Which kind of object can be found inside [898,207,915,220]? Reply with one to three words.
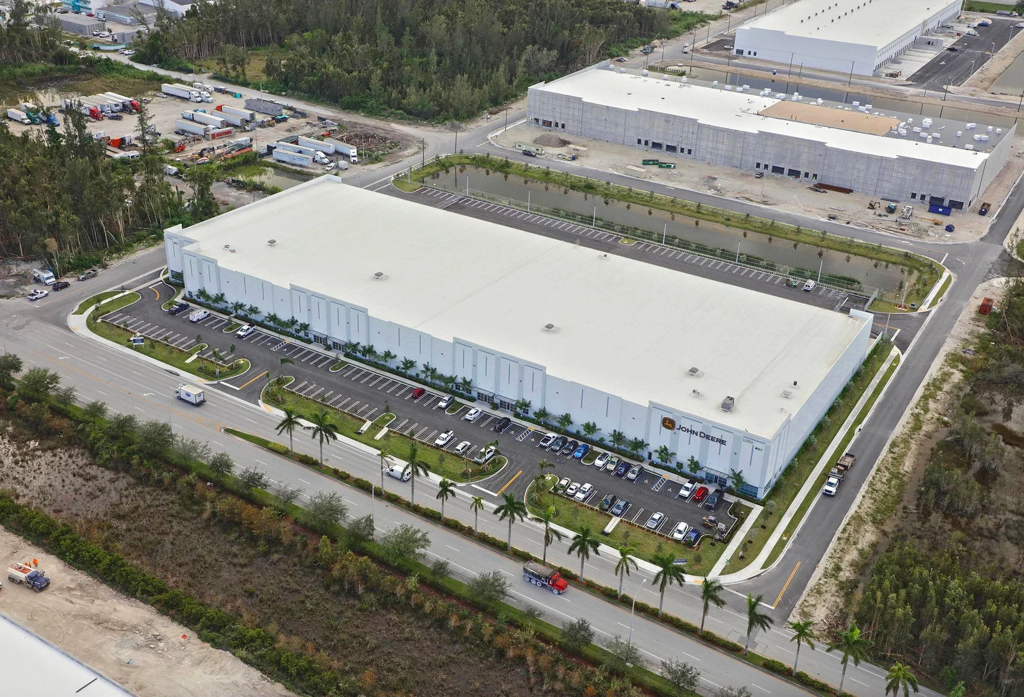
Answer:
vehicle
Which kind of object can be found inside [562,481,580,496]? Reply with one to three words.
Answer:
car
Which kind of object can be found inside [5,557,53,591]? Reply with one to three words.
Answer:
truck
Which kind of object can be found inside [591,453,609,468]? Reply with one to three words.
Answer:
car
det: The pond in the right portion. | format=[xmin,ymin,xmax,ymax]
[431,167,900,289]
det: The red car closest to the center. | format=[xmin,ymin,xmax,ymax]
[408,387,426,399]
